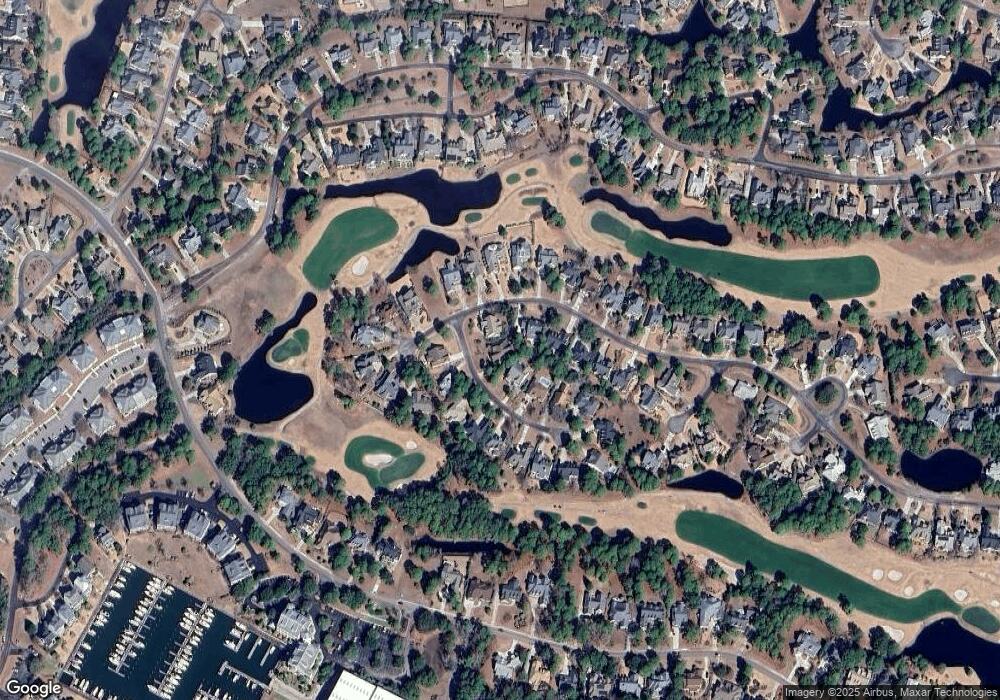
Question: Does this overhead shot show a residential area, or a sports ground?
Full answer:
It's a residential area.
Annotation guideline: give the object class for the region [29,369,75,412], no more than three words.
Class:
building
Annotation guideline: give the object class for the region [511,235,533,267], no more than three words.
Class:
house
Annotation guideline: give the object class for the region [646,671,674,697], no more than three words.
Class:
house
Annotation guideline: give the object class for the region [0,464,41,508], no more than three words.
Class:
building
